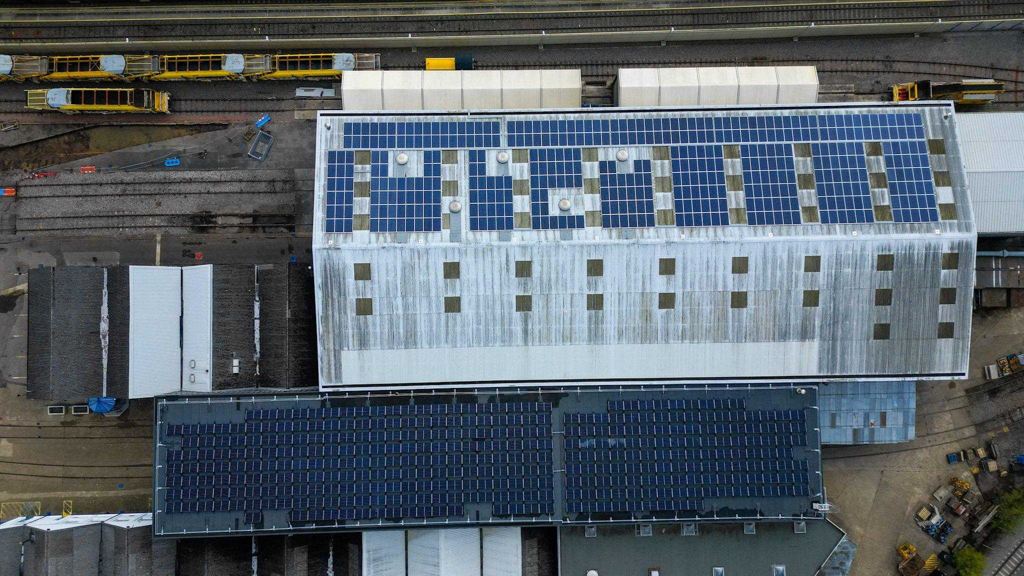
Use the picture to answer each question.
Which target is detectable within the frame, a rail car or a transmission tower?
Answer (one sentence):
It is a rail car that can be seen here.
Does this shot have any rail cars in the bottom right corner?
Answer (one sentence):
No, I see no rail car in the bottom right corner.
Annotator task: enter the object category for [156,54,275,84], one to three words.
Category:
rail car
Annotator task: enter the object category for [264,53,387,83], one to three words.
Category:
rail car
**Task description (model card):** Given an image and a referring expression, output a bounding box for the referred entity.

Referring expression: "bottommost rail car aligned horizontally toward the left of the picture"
[25,88,175,117]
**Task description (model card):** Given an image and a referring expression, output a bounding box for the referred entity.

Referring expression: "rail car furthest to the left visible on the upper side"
[0,56,45,85]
